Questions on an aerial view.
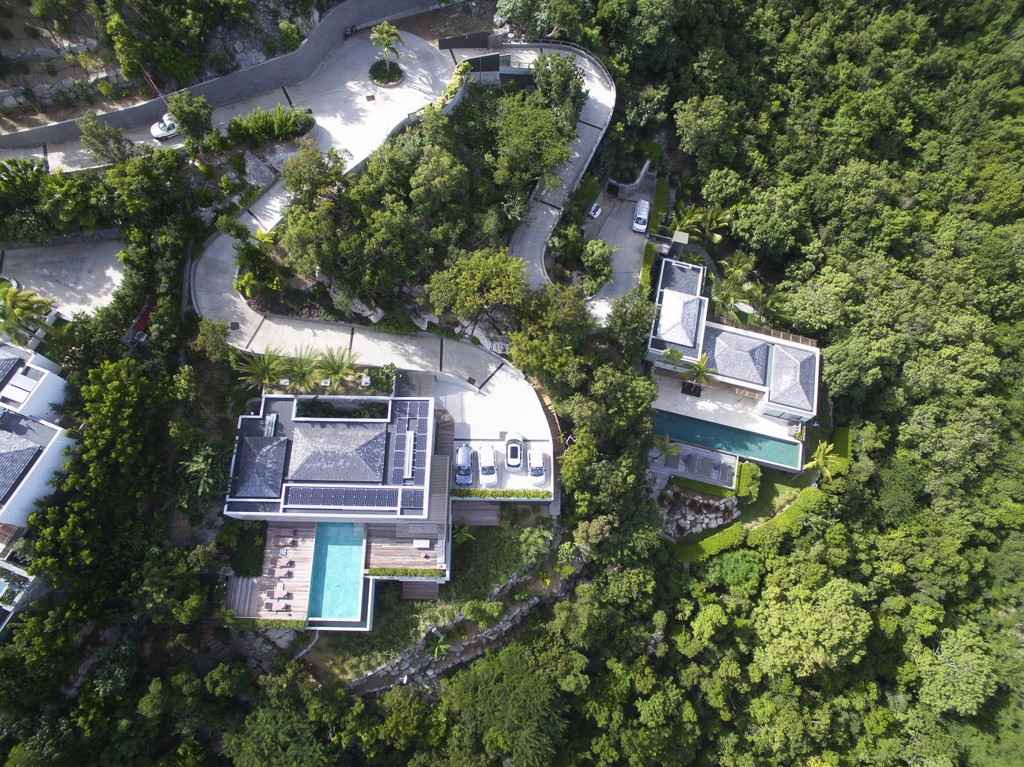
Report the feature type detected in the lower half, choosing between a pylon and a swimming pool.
swimming pool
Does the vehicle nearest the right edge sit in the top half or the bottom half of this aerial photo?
top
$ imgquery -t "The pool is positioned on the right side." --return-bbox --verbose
[645,406,801,469]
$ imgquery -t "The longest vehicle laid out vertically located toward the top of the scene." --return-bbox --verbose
[631,195,651,233]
